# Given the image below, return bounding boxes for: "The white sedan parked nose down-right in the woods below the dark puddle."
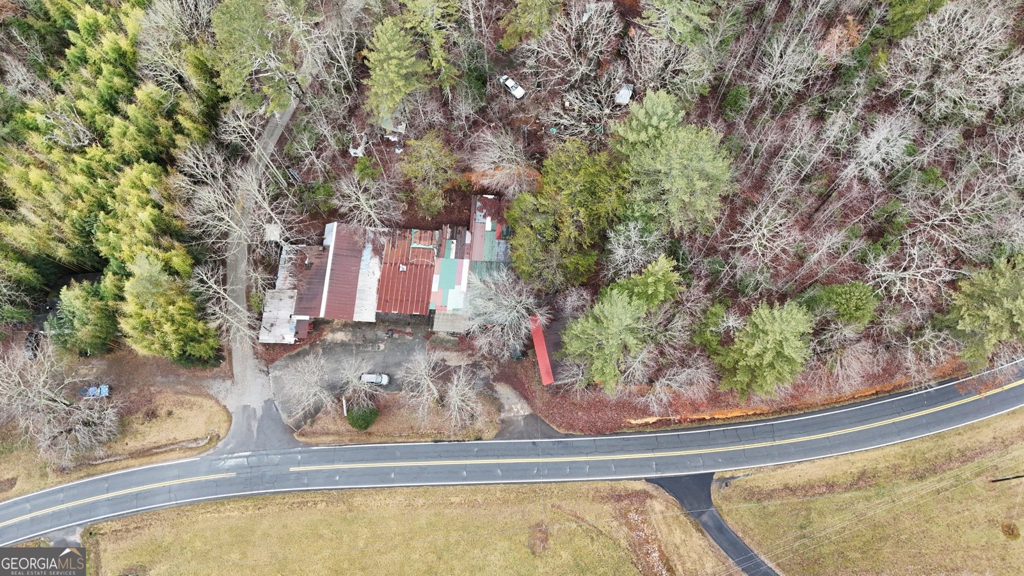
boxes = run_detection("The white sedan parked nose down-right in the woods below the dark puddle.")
[500,76,526,98]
